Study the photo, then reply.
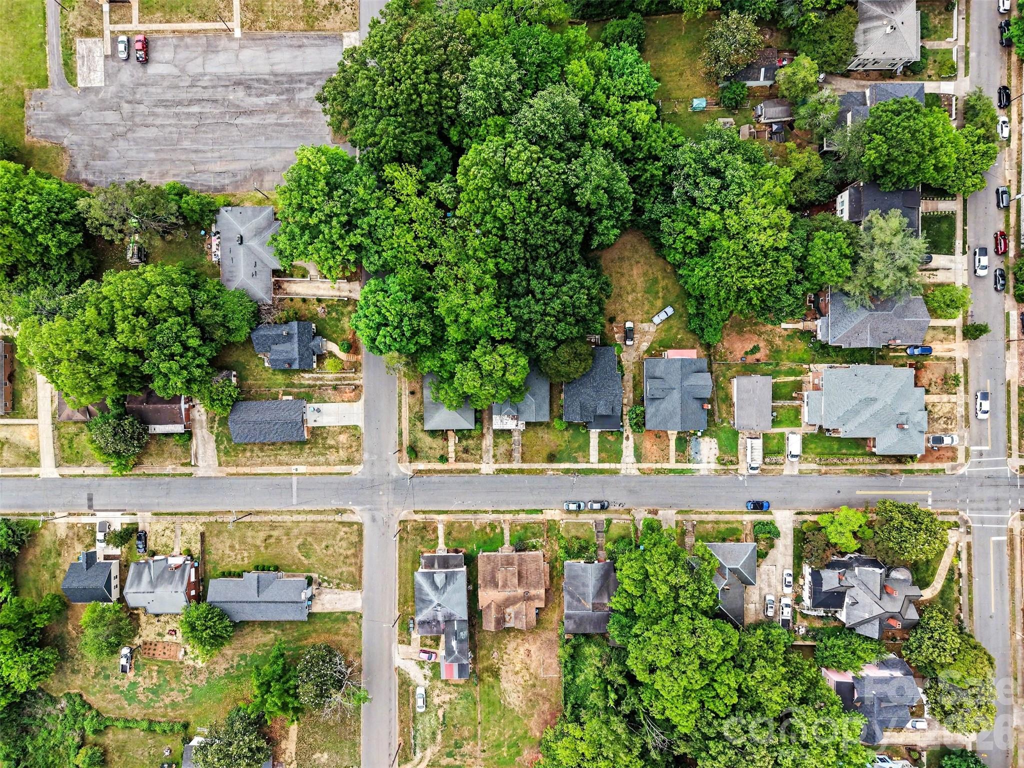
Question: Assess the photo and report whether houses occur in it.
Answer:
Yes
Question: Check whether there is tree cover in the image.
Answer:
Yes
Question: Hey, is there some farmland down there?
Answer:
No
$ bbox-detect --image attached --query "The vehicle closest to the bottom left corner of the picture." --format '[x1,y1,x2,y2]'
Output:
[121,646,134,673]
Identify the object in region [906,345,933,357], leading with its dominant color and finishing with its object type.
blue vehicle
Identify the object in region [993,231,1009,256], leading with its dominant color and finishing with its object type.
red car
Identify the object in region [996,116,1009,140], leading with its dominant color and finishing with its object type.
white vehicle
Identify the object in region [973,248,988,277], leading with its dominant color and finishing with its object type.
white vehicle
